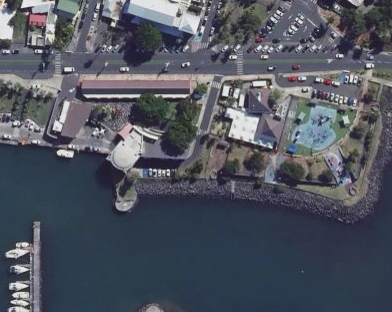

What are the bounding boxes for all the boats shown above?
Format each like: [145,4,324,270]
[57,150,76,158]
[10,282,30,289]
[16,241,31,247]
[8,306,32,312]
[10,265,32,273]
[11,298,32,305]
[6,247,31,257]
[13,291,31,298]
